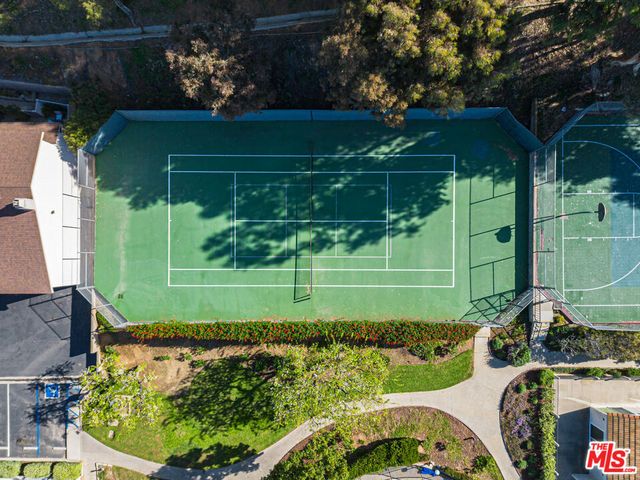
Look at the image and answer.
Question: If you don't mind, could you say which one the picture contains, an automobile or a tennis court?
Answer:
tennis court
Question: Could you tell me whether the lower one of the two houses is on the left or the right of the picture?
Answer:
right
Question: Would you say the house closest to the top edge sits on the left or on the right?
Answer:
left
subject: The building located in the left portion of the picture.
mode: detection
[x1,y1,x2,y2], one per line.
[0,121,74,296]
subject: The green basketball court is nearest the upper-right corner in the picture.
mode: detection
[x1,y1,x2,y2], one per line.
[536,114,640,322]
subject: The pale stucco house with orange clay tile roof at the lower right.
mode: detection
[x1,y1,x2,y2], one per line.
[566,407,640,480]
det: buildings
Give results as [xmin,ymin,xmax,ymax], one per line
[0,121,74,296]
[566,407,640,480]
